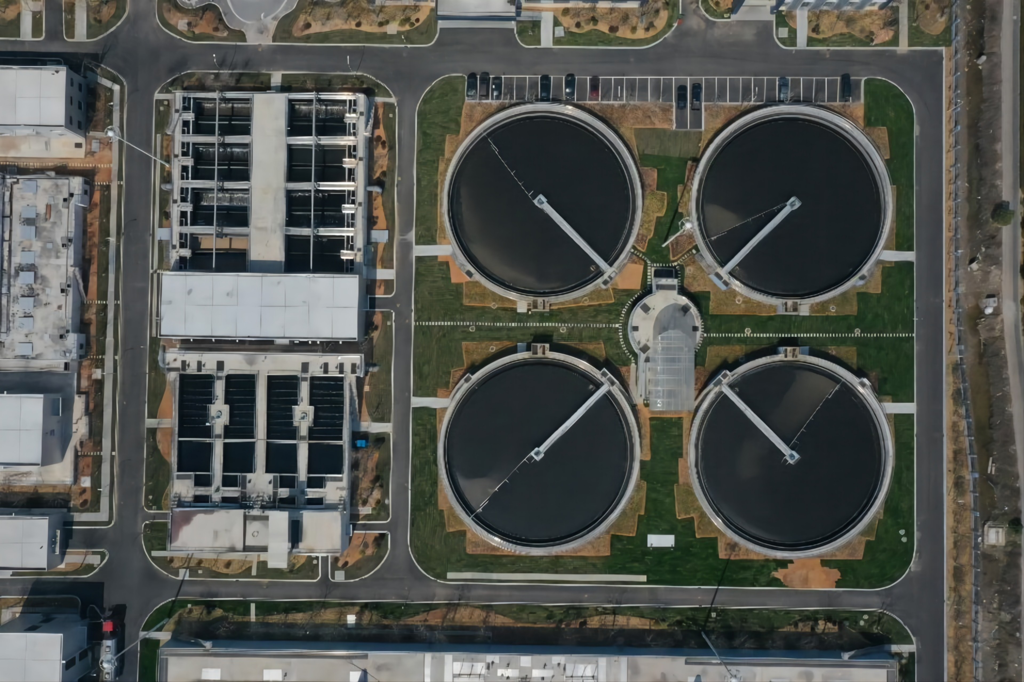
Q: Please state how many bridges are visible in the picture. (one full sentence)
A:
Altogether the scene contains 4 bridges.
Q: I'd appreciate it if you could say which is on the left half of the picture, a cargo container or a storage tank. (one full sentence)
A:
The feature located on the left half of the picture is a storage tank.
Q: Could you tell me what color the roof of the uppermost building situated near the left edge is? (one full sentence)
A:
The roof of the uppermost building situated near the left edge is white.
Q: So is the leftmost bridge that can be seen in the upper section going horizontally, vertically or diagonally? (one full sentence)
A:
From this overhead view, the leftmost bridge that can be seen in the upper section appears to run diagonally.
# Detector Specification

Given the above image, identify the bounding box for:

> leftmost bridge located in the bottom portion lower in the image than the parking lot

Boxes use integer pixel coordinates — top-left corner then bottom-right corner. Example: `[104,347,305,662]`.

[536,376,611,457]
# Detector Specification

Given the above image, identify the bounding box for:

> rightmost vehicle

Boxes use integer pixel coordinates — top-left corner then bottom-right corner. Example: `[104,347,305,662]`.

[838,74,853,100]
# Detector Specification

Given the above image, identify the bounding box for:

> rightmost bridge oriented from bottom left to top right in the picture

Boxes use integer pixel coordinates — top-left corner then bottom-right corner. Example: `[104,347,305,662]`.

[718,204,799,280]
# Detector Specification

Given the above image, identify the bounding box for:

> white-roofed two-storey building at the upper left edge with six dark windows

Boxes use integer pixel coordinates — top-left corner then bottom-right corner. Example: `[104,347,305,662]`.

[0,66,86,136]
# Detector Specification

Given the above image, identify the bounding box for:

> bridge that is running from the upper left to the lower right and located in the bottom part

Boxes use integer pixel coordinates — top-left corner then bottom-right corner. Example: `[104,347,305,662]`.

[723,376,798,460]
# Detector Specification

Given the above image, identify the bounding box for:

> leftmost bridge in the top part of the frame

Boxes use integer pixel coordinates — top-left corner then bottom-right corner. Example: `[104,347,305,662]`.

[538,198,614,279]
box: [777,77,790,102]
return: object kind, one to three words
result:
vehicle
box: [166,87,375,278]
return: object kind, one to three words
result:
storage tank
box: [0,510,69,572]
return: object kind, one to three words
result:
building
